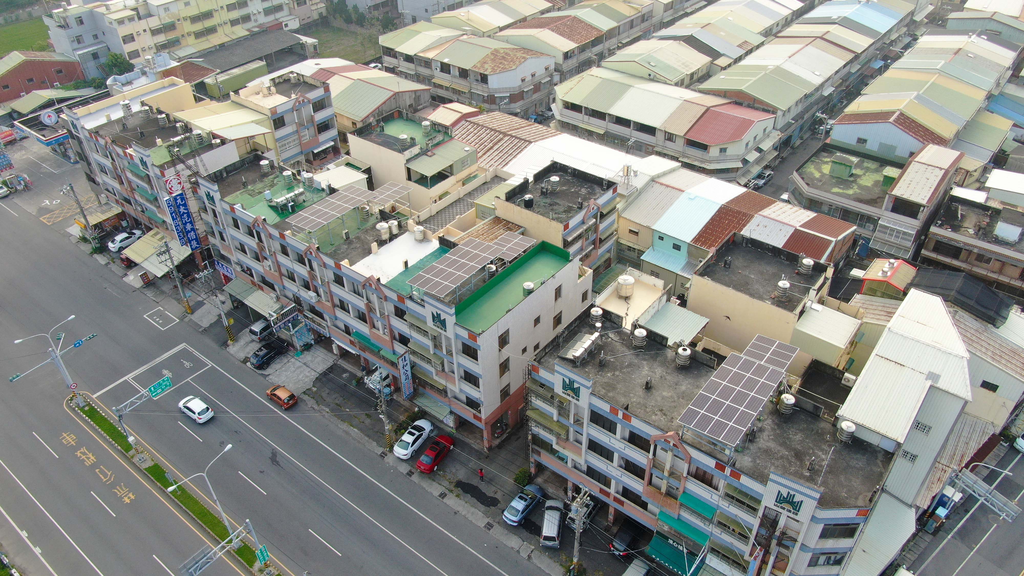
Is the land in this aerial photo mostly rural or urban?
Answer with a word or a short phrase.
urban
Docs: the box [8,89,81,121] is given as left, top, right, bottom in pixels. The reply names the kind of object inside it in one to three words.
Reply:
shed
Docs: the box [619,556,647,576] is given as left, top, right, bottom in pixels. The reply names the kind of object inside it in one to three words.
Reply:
car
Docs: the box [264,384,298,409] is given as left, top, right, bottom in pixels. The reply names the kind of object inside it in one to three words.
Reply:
car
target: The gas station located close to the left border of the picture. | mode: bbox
[14,91,109,164]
